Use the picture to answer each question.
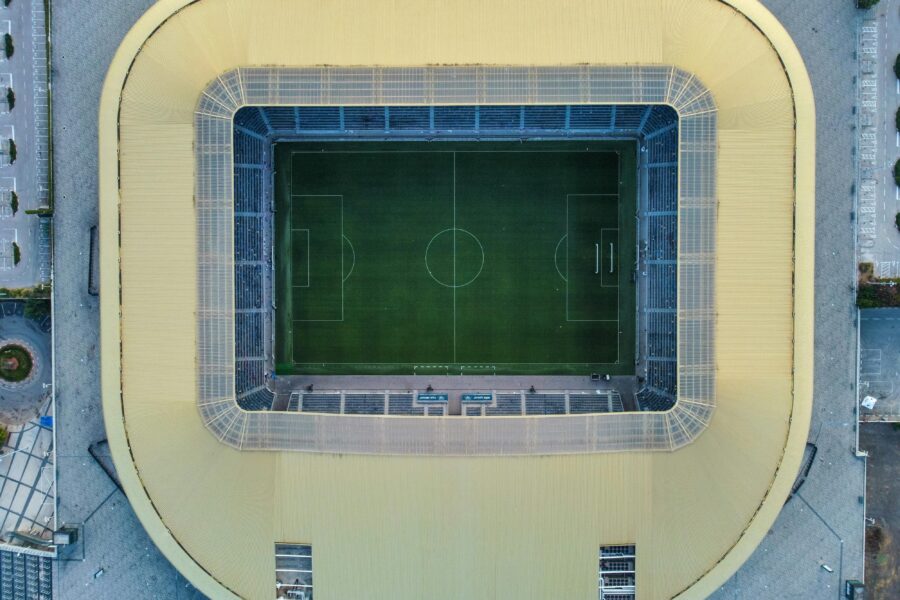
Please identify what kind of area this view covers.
sports ground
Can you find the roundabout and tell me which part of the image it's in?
left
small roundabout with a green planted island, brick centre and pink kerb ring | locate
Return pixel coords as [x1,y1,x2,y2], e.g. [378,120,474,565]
[0,327,49,400]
